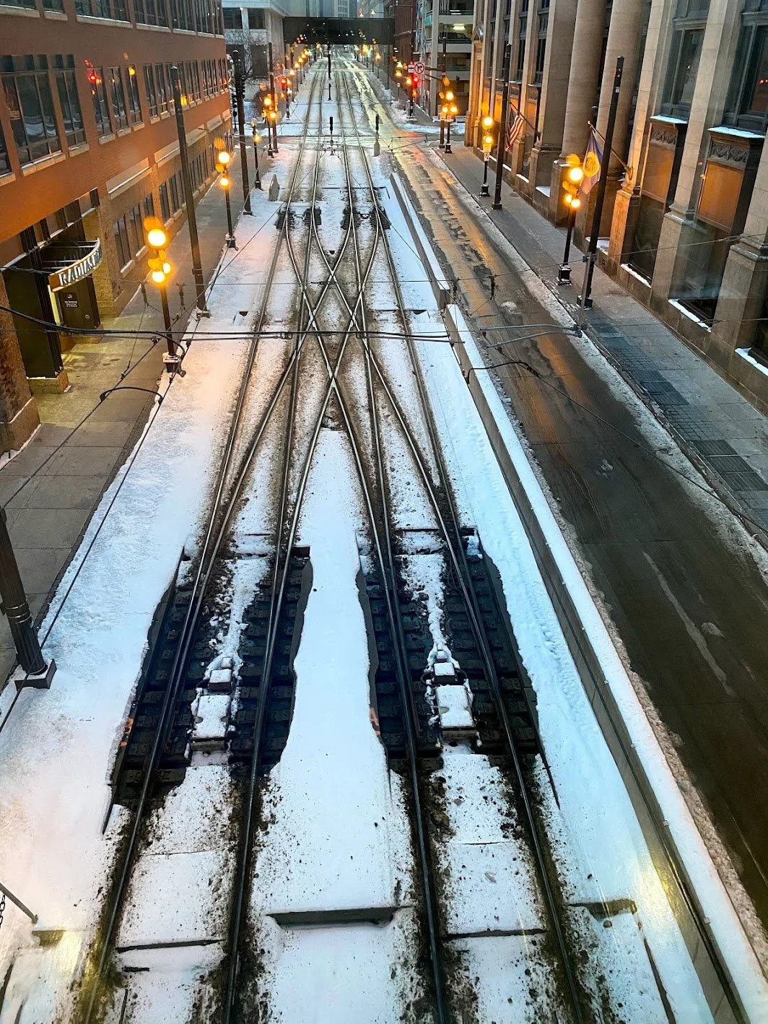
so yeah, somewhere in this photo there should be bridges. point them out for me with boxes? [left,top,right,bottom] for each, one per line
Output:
[282,17,398,45]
